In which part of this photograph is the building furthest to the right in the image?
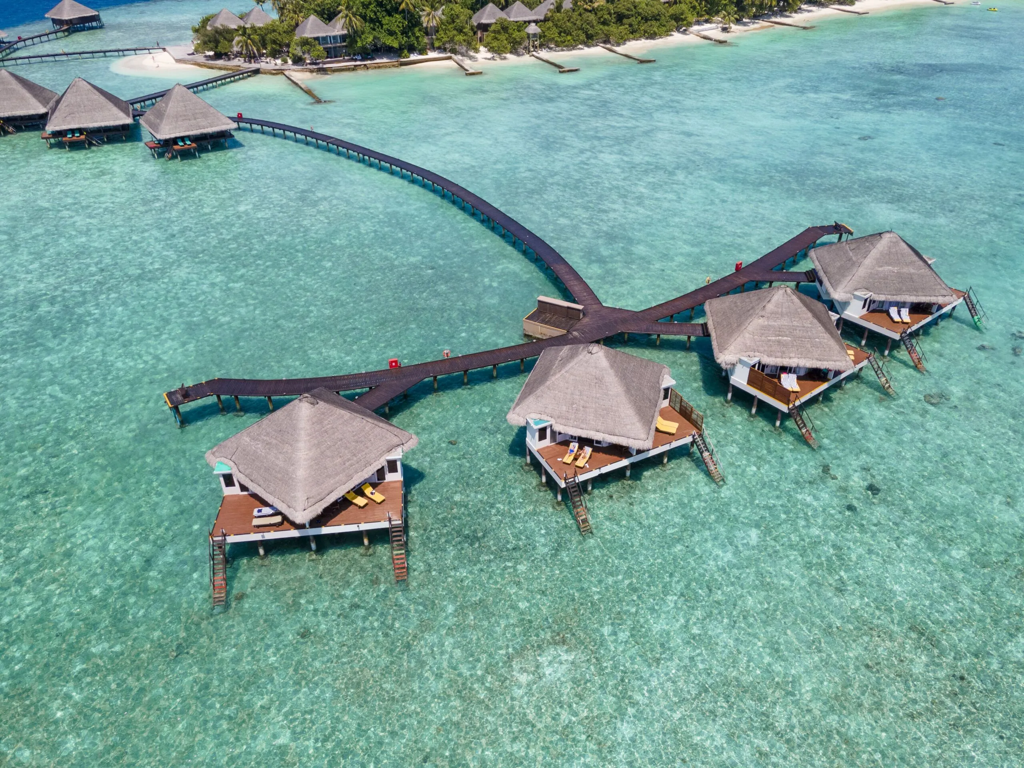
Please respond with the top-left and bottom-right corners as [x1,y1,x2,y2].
[810,232,985,378]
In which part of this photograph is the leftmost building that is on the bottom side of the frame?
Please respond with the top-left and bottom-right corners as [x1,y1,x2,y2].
[203,385,421,614]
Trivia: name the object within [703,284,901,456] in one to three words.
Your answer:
house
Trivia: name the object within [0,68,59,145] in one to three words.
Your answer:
house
